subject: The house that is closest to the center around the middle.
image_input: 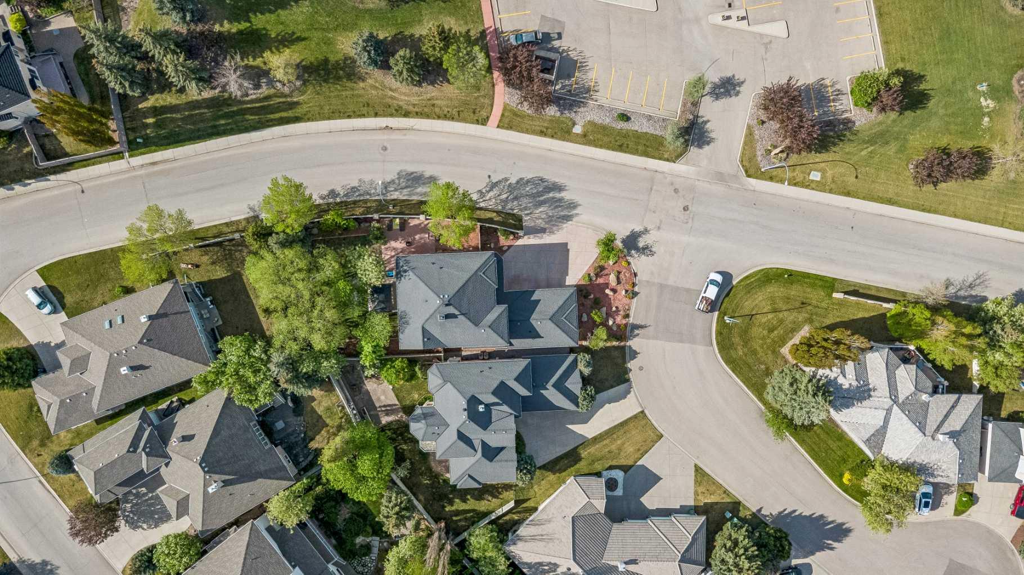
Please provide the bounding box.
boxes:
[395,251,578,350]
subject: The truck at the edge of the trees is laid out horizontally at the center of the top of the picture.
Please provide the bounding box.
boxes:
[510,25,544,46]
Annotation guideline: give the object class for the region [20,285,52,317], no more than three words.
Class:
car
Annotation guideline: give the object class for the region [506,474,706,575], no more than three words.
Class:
house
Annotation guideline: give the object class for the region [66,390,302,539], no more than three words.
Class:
house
